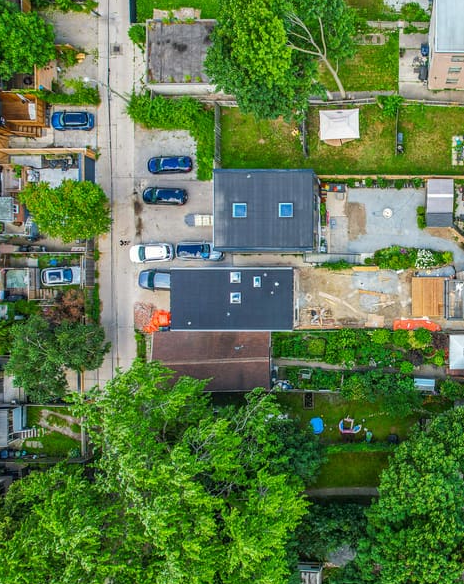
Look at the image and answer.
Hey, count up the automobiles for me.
7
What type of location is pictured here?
residential area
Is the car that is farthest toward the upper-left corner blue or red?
blue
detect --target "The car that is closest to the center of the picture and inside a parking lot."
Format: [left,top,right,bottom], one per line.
[177,240,226,262]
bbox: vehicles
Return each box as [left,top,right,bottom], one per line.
[148,153,195,176]
[144,184,191,207]
[52,109,96,133]
[177,240,226,262]
[138,269,171,291]
[41,264,77,287]
[130,240,177,263]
